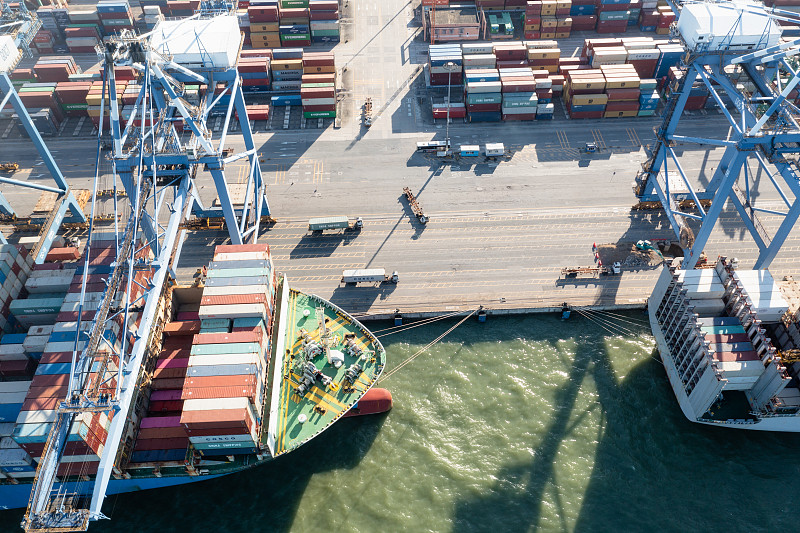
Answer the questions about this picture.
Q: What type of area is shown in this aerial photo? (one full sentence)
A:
What you see here is a port.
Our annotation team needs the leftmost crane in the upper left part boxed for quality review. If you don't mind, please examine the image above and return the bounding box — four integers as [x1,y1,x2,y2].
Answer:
[0,10,107,278]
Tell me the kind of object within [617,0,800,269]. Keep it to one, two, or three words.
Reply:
container crane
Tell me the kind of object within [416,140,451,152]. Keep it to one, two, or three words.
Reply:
vehicle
